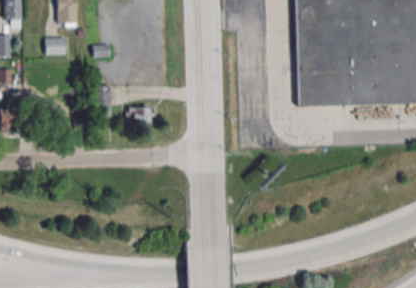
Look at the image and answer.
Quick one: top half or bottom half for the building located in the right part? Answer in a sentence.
The building located in the right part sits in the top half of the picture.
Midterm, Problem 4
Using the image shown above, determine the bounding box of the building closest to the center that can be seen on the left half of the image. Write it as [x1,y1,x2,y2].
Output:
[126,106,154,124]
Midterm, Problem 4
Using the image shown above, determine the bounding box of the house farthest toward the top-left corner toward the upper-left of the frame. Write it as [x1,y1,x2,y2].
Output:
[4,0,23,20]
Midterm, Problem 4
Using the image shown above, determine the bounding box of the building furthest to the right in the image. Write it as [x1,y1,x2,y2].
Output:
[294,0,416,106]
